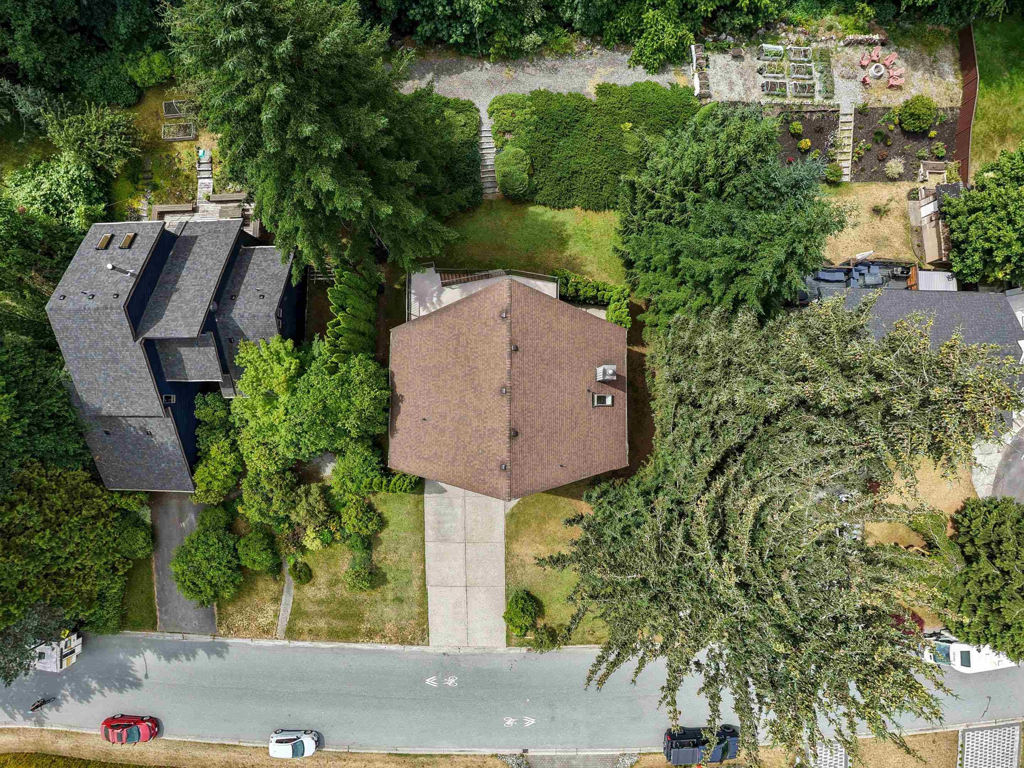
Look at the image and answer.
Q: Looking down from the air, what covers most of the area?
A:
trees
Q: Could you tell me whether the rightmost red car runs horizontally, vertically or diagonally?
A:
horizontally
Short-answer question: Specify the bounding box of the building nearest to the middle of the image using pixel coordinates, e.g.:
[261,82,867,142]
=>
[387,277,630,501]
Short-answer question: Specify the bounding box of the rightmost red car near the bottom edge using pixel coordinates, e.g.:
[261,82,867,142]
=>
[97,712,159,744]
